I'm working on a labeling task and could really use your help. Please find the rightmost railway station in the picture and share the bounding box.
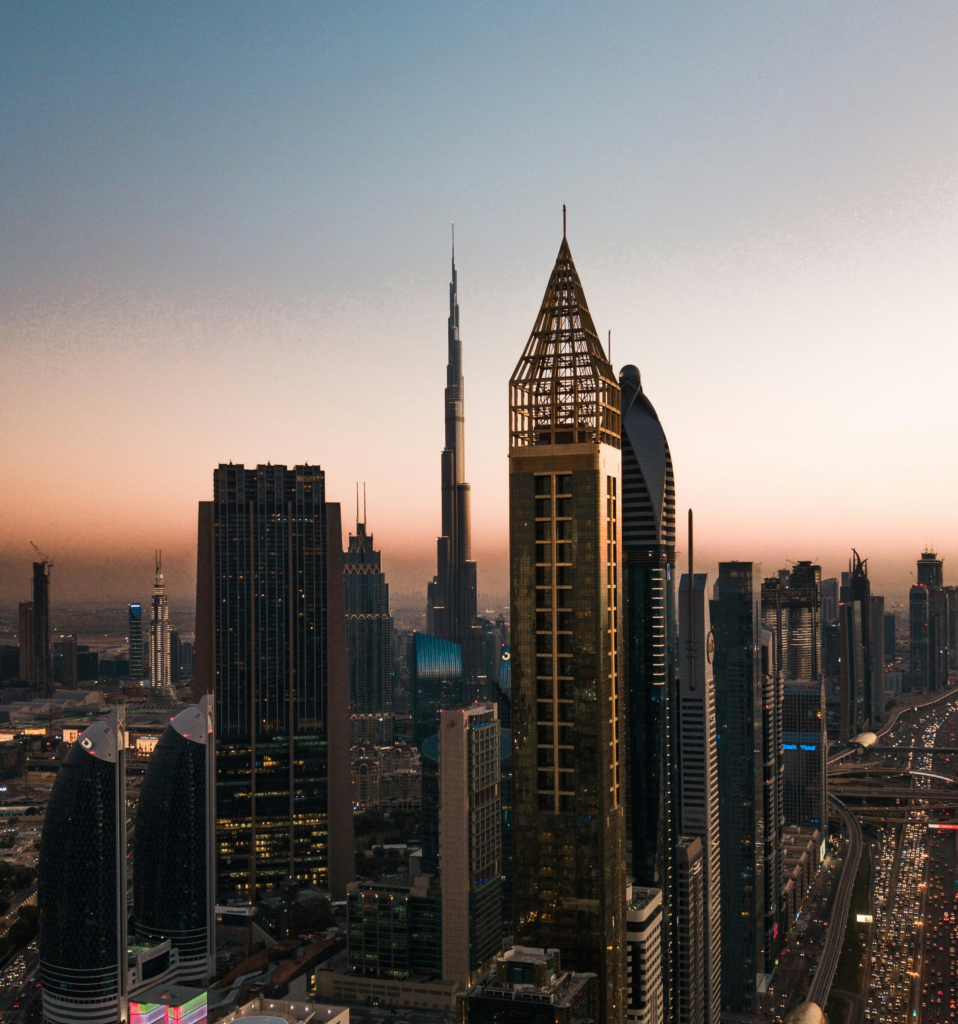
[844,725,886,752]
